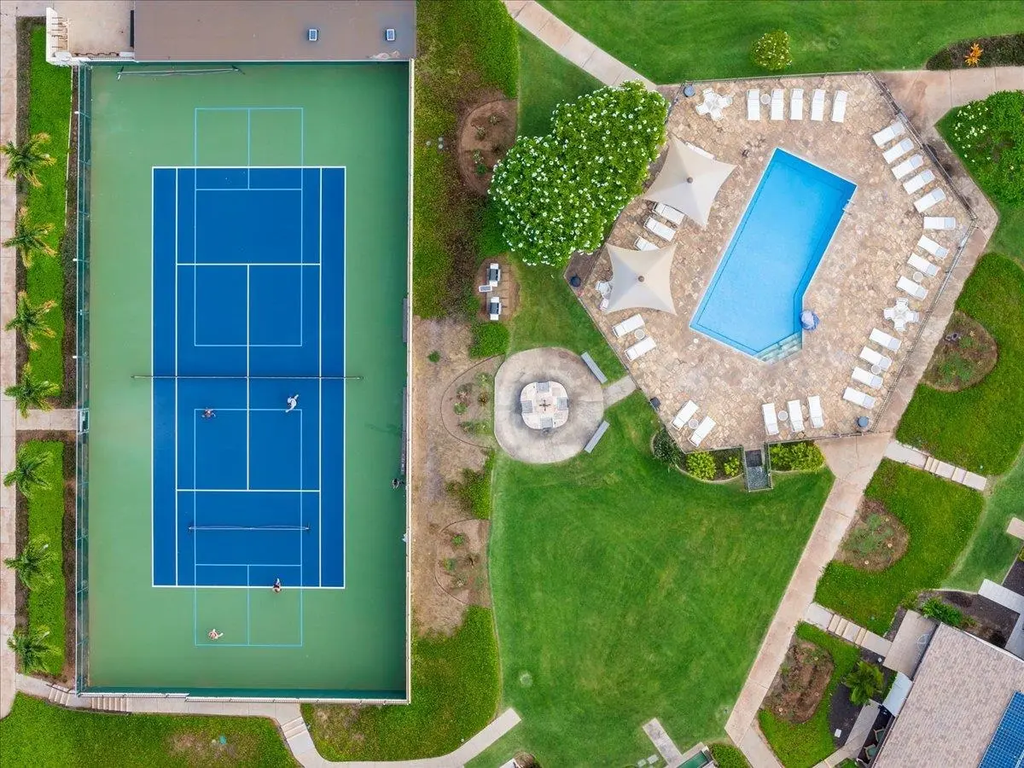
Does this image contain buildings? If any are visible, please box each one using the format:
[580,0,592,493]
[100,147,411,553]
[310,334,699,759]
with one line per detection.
[130,0,417,62]
[869,619,1024,768]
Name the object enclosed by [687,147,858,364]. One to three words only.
swimming pool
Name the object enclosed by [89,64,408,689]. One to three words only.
tennis court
